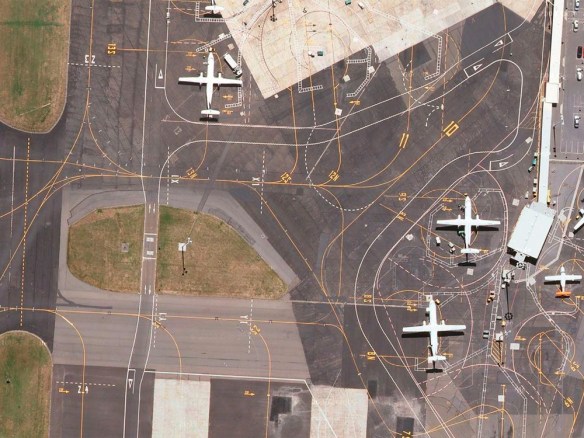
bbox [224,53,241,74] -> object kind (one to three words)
vehicle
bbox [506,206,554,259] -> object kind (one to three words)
building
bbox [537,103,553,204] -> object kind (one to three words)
building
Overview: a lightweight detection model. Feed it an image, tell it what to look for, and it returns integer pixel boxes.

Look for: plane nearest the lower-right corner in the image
[545,265,582,295]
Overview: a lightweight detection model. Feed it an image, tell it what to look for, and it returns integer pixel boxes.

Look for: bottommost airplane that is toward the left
[179,52,242,115]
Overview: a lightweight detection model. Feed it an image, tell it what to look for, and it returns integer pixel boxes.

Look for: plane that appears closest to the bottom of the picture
[402,301,466,363]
